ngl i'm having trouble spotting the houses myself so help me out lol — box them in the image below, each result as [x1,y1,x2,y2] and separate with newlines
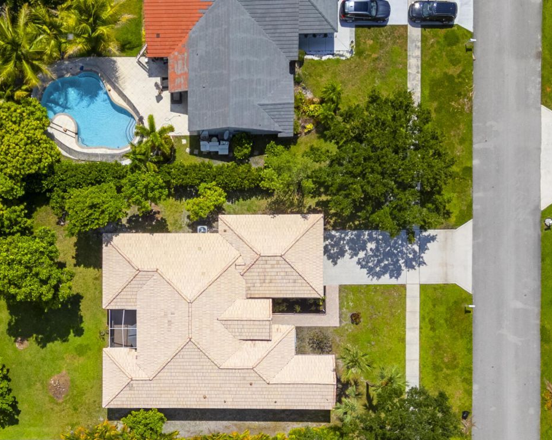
[144,0,338,137]
[103,214,337,408]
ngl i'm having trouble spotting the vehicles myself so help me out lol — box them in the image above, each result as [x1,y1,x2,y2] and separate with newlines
[408,0,458,25]
[340,1,391,24]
